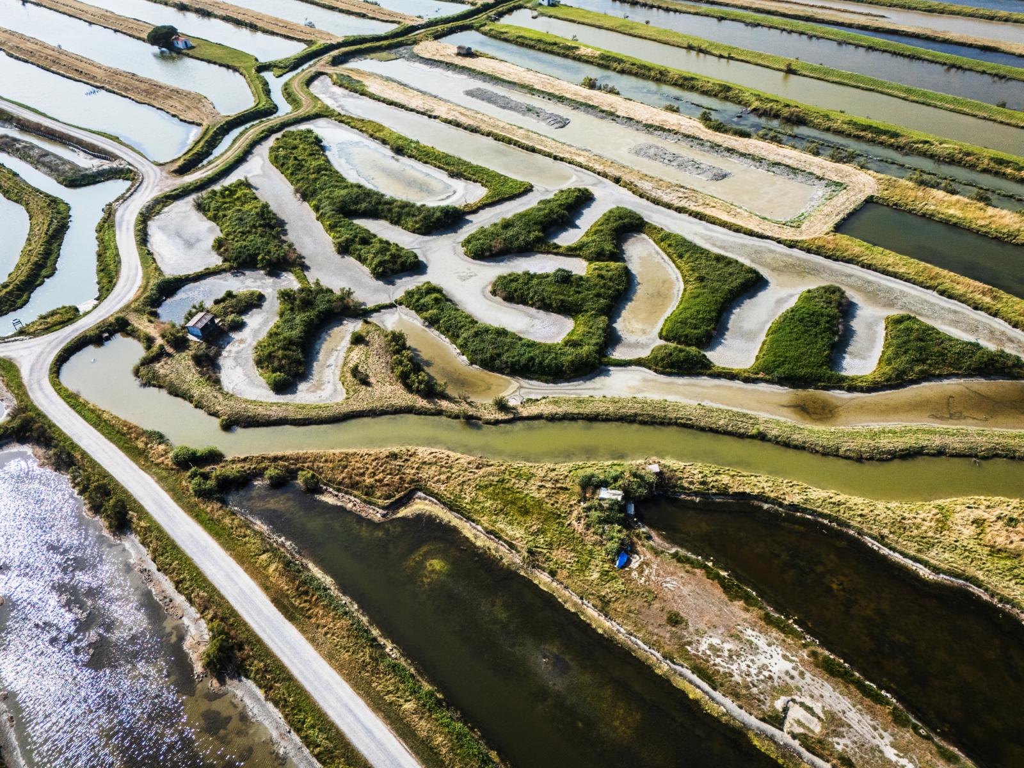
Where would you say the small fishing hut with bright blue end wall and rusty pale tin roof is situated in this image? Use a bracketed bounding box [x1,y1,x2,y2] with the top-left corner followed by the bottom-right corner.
[185,312,216,340]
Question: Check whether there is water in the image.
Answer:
Yes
